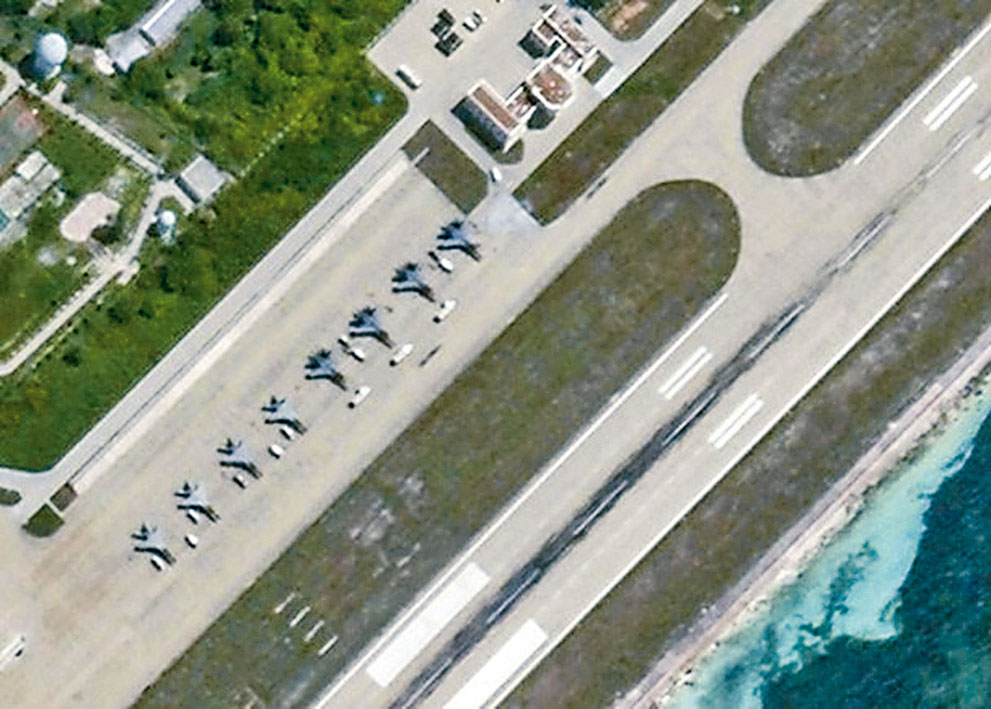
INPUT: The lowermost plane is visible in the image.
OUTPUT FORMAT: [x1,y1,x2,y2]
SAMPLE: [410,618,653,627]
[125,515,173,558]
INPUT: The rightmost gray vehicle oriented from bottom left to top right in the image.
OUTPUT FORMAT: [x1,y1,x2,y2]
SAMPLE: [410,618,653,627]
[587,178,606,197]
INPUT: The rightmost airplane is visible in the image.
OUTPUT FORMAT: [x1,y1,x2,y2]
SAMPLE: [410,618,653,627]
[435,214,481,255]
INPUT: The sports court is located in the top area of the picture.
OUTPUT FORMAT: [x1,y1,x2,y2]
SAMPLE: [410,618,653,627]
[0,96,49,172]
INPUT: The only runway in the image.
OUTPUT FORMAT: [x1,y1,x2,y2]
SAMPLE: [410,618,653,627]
[315,20,991,709]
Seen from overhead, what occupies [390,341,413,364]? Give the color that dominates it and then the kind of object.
white truck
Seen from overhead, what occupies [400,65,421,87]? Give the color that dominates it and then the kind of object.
white truck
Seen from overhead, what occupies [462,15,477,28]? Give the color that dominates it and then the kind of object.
white vehicle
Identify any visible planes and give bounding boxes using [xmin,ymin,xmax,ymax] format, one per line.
[213,429,260,472]
[170,473,219,517]
[125,515,173,558]
[301,341,348,385]
[389,253,436,296]
[435,214,481,255]
[346,299,394,341]
[257,386,305,429]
